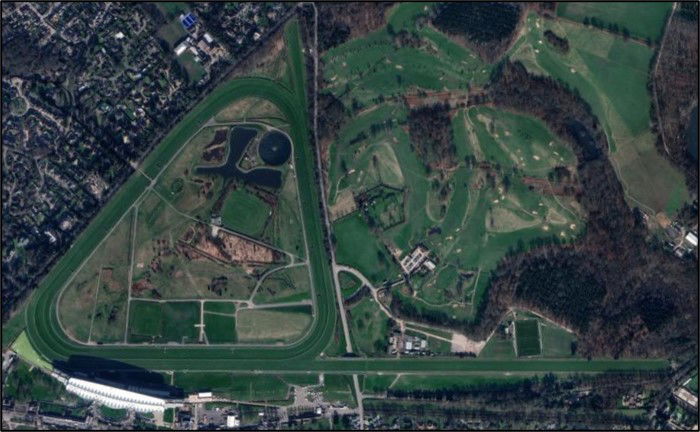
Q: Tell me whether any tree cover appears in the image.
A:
Yes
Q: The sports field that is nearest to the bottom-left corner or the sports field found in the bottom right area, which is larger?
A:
the sports field that is nearest to the bottom-left corner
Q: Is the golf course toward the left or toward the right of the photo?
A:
right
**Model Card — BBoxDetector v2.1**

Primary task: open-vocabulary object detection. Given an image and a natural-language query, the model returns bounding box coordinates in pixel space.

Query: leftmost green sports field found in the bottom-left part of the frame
[128,301,199,343]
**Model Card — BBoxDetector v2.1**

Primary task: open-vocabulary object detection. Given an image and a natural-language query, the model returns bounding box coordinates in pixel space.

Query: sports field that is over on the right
[517,320,542,356]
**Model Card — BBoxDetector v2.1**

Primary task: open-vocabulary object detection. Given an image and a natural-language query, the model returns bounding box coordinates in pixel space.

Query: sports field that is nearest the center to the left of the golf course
[220,189,271,236]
